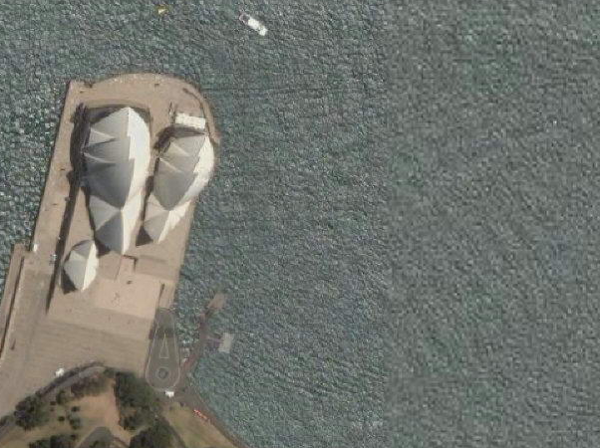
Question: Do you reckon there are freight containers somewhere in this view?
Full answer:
No, the photo shows no freight container.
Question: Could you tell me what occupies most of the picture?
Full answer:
The scene is dominated by water.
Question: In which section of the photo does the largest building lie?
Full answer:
The largest building sits in the left section of the image.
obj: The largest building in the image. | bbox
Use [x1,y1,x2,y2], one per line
[46,101,216,341]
